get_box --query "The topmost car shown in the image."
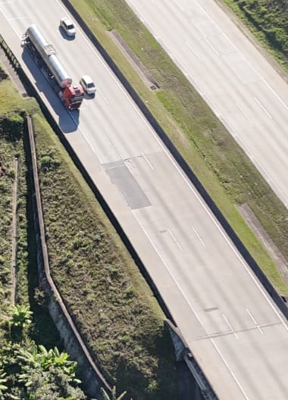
[57,19,76,37]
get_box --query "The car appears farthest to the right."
[78,77,97,96]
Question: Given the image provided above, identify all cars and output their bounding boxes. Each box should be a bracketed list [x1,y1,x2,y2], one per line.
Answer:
[57,19,76,37]
[78,77,97,96]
